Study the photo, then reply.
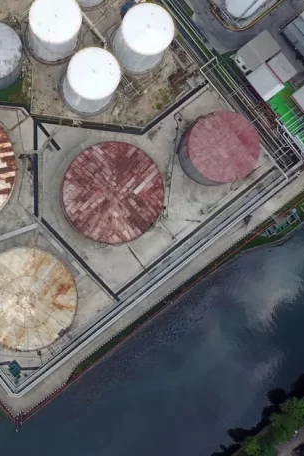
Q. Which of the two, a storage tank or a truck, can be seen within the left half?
storage tank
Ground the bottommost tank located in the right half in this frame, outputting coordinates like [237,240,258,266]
[175,111,262,190]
